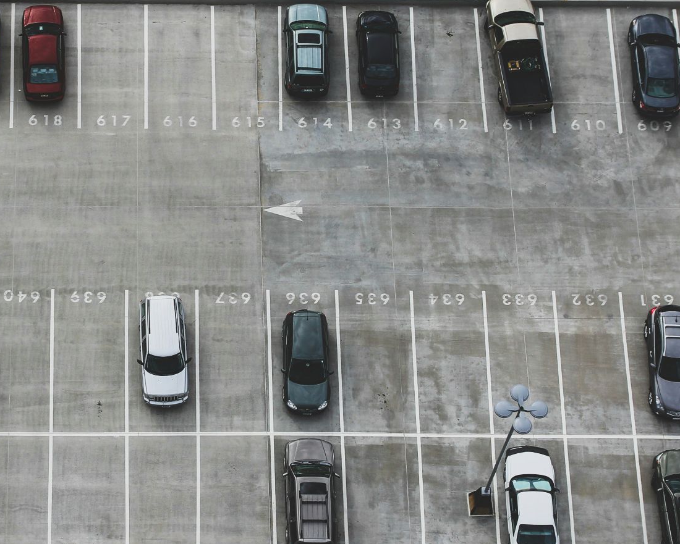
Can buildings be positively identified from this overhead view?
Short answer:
No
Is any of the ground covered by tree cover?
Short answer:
No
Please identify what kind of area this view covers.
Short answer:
parking lot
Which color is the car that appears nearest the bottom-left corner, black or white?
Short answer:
white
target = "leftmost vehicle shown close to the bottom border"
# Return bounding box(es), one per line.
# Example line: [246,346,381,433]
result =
[281,441,343,544]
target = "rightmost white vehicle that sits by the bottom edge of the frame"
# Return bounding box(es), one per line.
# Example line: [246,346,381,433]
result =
[503,447,561,544]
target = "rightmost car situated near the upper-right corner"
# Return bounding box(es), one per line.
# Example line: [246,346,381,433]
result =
[628,15,680,113]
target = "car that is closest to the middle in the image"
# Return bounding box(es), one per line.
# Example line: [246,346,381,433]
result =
[278,307,336,417]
